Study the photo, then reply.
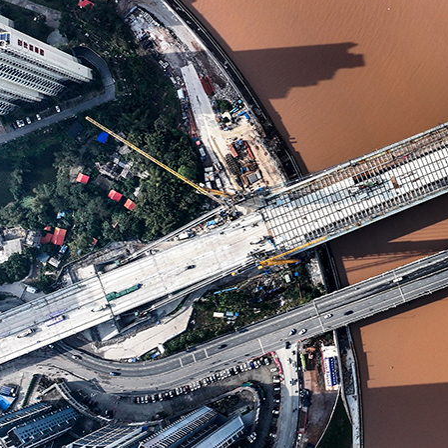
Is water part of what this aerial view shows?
Yes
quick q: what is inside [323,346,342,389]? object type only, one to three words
building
